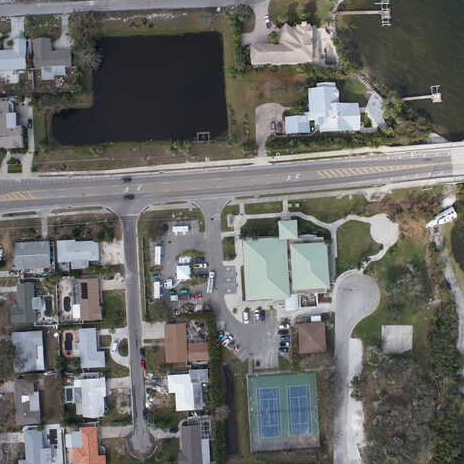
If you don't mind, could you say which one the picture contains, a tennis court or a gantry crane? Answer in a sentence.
It is a tennis court that can be seen here.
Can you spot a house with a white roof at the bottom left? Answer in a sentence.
Yes, the scene does show a house with a white roof at the bottom left.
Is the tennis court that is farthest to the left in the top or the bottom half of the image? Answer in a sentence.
It is in the bottom half that the tennis court that is farthest to the left appears.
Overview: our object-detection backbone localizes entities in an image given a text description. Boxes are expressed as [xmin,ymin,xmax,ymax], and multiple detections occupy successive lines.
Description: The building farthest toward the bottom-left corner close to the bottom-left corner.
[19,428,52,464]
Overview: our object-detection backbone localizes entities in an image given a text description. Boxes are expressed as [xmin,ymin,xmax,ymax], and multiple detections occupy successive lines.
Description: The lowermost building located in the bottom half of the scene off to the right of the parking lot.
[297,321,326,354]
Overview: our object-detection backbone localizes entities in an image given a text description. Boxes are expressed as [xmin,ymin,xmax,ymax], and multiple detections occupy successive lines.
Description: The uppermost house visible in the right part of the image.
[250,23,313,65]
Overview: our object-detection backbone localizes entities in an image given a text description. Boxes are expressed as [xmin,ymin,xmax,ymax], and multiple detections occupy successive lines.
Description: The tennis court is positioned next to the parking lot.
[248,372,320,453]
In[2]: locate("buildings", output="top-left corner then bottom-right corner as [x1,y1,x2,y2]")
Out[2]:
[309,82,361,132]
[243,238,290,300]
[73,279,102,320]
[16,379,40,425]
[10,283,43,323]
[15,241,51,269]
[0,38,27,83]
[75,377,107,417]
[166,323,208,363]
[57,241,99,270]
[65,426,107,464]
[12,331,45,372]
[33,38,73,80]
[19,428,52,464]
[0,101,24,148]
[297,321,326,354]
[80,328,106,368]
[291,234,329,293]
[181,425,210,464]
[250,23,313,65]
[168,369,208,410]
